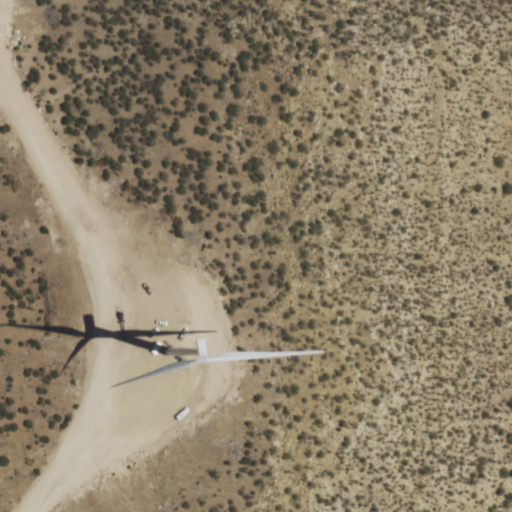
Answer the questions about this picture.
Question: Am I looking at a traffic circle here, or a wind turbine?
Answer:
wind turbine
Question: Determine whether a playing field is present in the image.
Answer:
No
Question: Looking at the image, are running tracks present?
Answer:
No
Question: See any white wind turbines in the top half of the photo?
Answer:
No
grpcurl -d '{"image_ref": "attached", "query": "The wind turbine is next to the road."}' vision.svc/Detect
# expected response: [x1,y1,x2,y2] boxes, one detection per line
[112,338,320,386]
